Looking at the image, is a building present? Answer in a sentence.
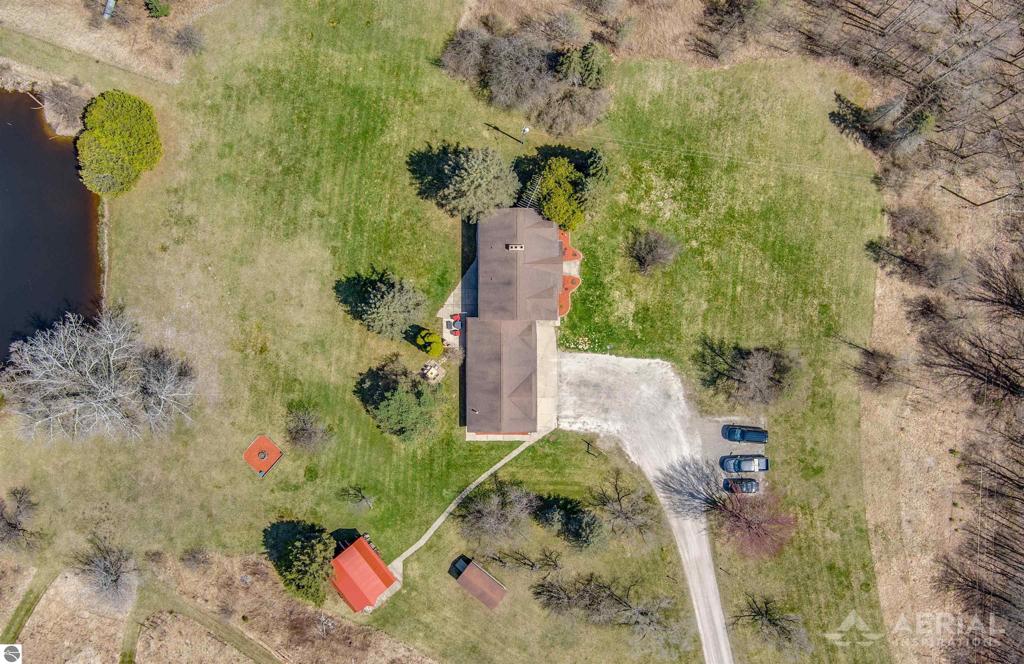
Yes, a building is visible in the scene.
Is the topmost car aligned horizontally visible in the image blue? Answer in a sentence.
Yes, the topmost car aligned horizontally is indeed blue.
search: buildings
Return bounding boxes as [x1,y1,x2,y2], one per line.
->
[453,558,508,609]
[322,537,396,613]
[466,207,563,433]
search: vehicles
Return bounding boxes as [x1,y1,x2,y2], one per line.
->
[726,478,760,494]
[723,455,771,475]
[725,426,768,446]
